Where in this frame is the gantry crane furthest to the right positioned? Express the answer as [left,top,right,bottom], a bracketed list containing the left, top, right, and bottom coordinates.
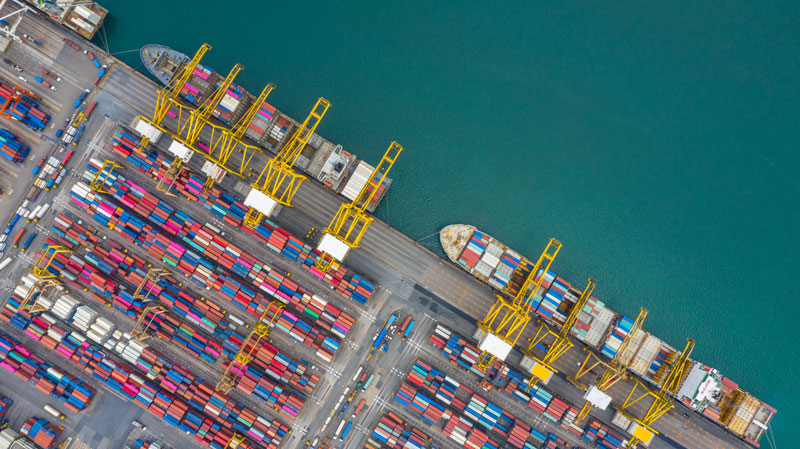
[607,337,698,449]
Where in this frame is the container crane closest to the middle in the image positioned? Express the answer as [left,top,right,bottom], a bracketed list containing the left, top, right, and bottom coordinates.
[316,140,405,273]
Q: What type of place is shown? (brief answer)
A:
port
